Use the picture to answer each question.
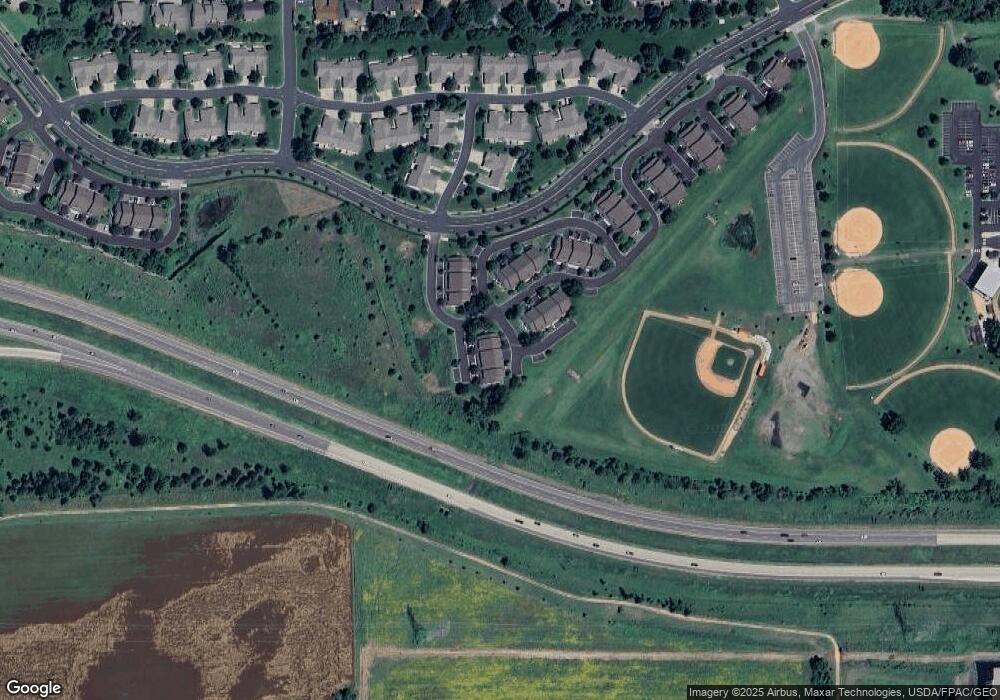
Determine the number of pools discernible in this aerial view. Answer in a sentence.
The photo contains no pools.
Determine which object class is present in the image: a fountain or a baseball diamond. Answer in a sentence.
The image shows a baseball diamond.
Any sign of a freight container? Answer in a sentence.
No, no freight container is visible in the view.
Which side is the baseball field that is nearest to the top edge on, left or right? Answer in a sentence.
The baseball field that is nearest to the top edge is on the right side of the image.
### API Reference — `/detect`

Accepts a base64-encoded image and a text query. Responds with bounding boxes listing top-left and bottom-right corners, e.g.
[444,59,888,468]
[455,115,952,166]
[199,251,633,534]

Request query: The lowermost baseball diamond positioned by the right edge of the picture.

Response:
[874,364,1000,475]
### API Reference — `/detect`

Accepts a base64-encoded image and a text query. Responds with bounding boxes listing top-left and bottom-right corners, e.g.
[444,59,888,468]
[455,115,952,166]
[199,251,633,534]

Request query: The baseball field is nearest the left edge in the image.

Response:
[622,310,771,461]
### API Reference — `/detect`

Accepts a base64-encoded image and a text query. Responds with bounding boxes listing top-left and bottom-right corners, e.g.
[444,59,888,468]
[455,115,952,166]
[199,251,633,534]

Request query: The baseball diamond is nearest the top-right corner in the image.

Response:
[832,18,944,134]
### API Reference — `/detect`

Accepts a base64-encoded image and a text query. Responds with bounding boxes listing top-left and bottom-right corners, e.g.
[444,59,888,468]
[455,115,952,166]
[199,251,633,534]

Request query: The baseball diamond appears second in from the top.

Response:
[832,141,957,257]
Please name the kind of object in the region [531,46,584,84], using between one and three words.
house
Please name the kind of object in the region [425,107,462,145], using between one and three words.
house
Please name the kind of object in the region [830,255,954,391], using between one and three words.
baseball field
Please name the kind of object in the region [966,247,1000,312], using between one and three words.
building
